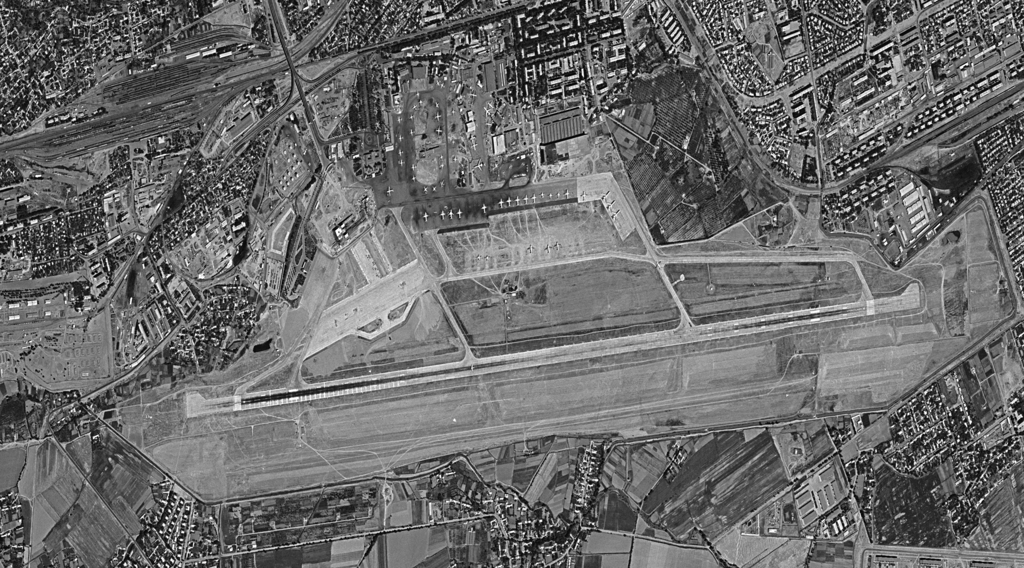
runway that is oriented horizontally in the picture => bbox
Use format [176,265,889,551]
[232,299,875,411]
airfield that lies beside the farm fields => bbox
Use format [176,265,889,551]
[187,78,920,418]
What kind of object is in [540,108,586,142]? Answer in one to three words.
building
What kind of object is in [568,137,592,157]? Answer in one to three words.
building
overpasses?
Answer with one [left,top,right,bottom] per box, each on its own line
[268,0,321,147]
